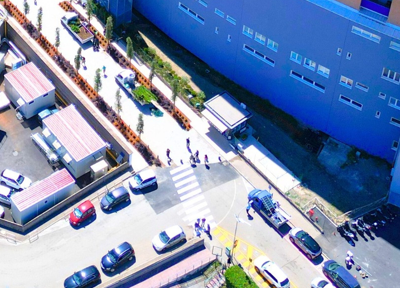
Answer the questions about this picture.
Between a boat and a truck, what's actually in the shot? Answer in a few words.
truck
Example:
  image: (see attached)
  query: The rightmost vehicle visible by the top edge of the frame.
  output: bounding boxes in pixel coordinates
[61,9,93,40]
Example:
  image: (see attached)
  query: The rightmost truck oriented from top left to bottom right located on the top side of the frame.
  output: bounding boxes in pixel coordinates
[113,70,155,106]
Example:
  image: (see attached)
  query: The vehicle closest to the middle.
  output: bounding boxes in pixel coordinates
[126,168,161,196]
